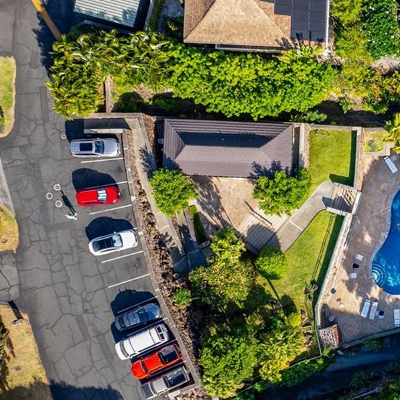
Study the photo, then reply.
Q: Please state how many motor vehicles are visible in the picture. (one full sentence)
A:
The picture shows 7 motor vehicles.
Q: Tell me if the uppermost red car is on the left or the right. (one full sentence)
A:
The uppermost red car sits on the left side.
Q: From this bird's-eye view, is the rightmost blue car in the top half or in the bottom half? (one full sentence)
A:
You can find the rightmost blue car in the bottom half.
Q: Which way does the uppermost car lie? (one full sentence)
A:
What the image shows is the uppermost car lying from side to side.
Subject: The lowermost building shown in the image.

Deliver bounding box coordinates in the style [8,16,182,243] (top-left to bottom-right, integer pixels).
[162,118,293,178]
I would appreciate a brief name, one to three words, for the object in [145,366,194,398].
truck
